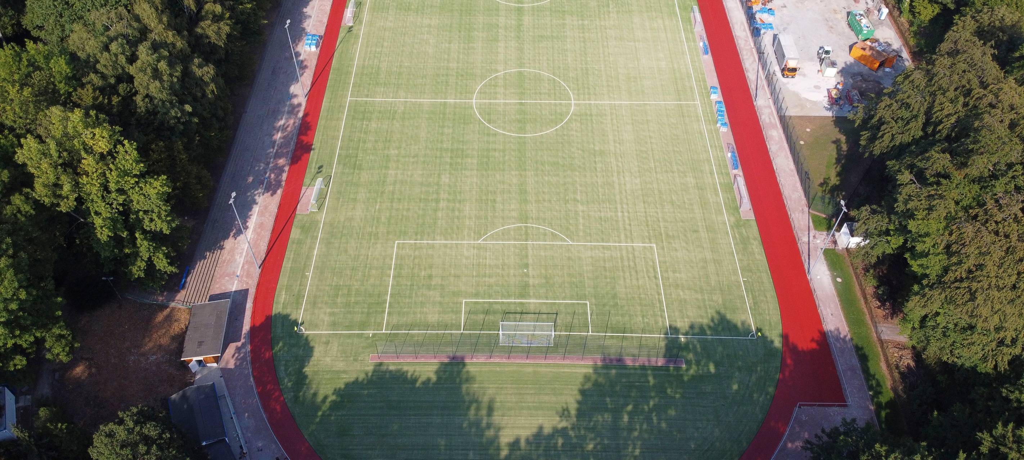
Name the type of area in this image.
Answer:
sports ground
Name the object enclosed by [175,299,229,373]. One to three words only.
building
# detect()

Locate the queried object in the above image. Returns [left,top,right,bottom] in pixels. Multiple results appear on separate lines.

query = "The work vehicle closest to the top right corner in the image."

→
[817,48,831,64]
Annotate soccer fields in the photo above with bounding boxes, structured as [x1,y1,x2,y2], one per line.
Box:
[271,0,781,460]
